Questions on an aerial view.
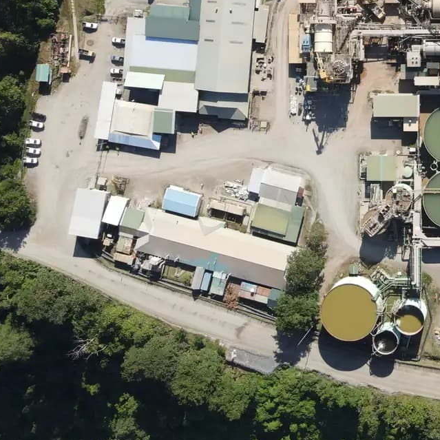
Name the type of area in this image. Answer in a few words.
industrial area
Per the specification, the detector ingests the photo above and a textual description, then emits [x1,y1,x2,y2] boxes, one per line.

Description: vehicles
[110,37,126,44]
[31,114,46,122]
[77,48,95,56]
[22,157,39,165]
[109,55,125,62]
[81,22,98,29]
[24,147,41,155]
[24,139,41,145]
[108,68,124,75]
[29,120,45,128]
